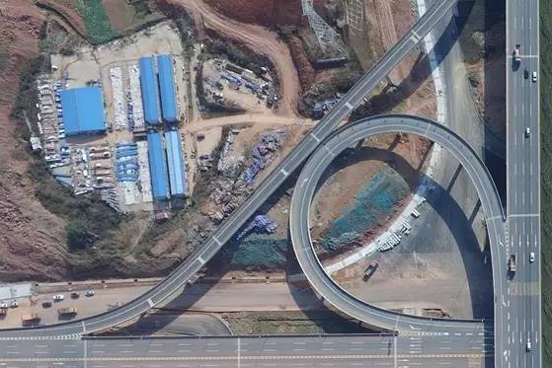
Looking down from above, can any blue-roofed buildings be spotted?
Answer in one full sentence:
Yes, the picture does show a blue-roofed building.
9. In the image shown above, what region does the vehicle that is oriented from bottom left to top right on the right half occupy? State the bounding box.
[362,259,377,280]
